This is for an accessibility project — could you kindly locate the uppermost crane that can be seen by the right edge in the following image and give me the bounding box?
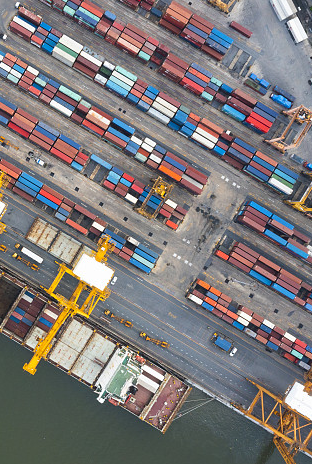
[263,105,312,155]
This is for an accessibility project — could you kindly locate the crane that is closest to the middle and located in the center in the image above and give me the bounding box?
[133,179,178,221]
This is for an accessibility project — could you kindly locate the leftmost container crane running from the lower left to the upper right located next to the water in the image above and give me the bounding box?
[20,236,118,380]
